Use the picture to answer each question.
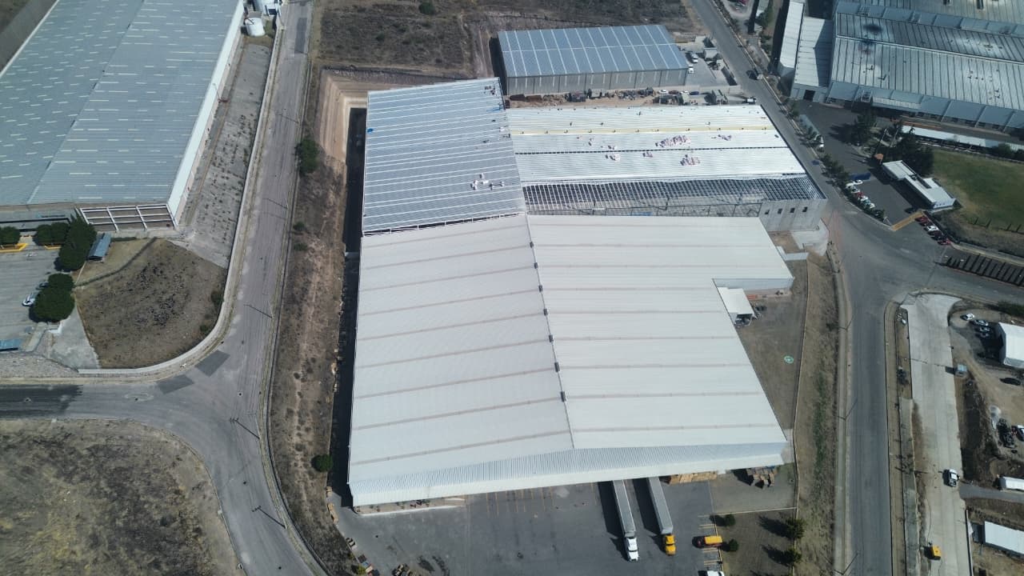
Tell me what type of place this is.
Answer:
industrial area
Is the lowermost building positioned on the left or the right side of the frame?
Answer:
right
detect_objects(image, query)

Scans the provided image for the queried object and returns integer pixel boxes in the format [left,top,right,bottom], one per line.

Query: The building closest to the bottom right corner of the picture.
[972,522,1024,561]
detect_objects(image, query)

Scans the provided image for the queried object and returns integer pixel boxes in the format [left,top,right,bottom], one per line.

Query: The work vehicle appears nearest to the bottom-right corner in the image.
[925,543,947,561]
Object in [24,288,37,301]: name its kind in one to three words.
vehicle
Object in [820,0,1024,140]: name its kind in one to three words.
building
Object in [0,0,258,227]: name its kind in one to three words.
warehouse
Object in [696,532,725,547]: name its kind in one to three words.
vehicle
